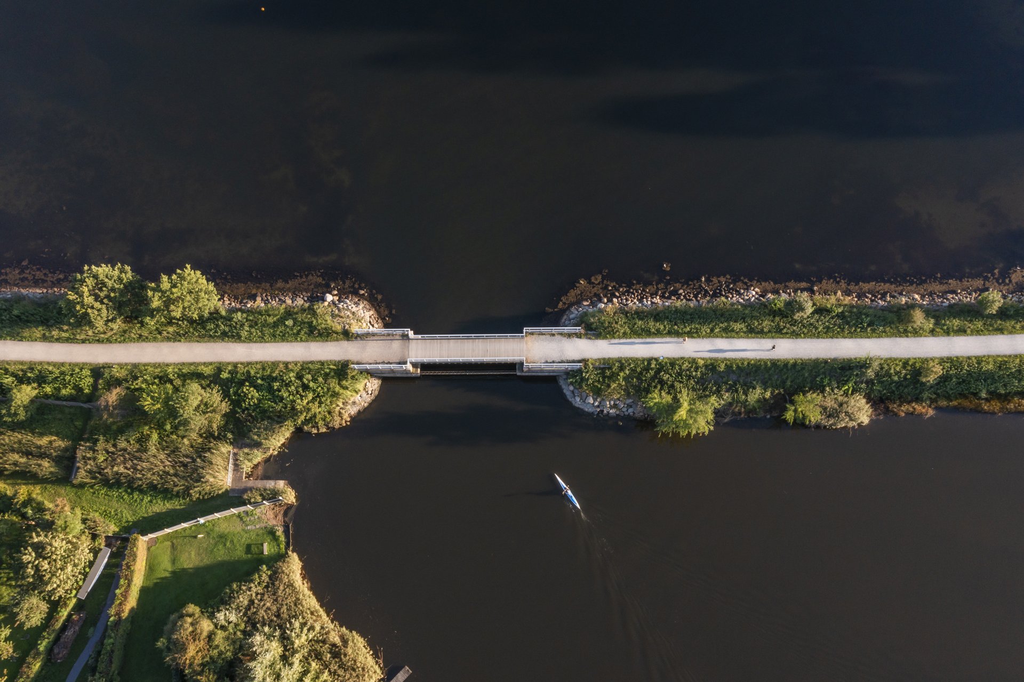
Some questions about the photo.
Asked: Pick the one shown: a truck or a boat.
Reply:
boat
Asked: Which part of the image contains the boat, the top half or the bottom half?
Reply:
bottom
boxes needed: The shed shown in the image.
[76,546,114,600]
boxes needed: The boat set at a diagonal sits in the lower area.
[555,474,580,509]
